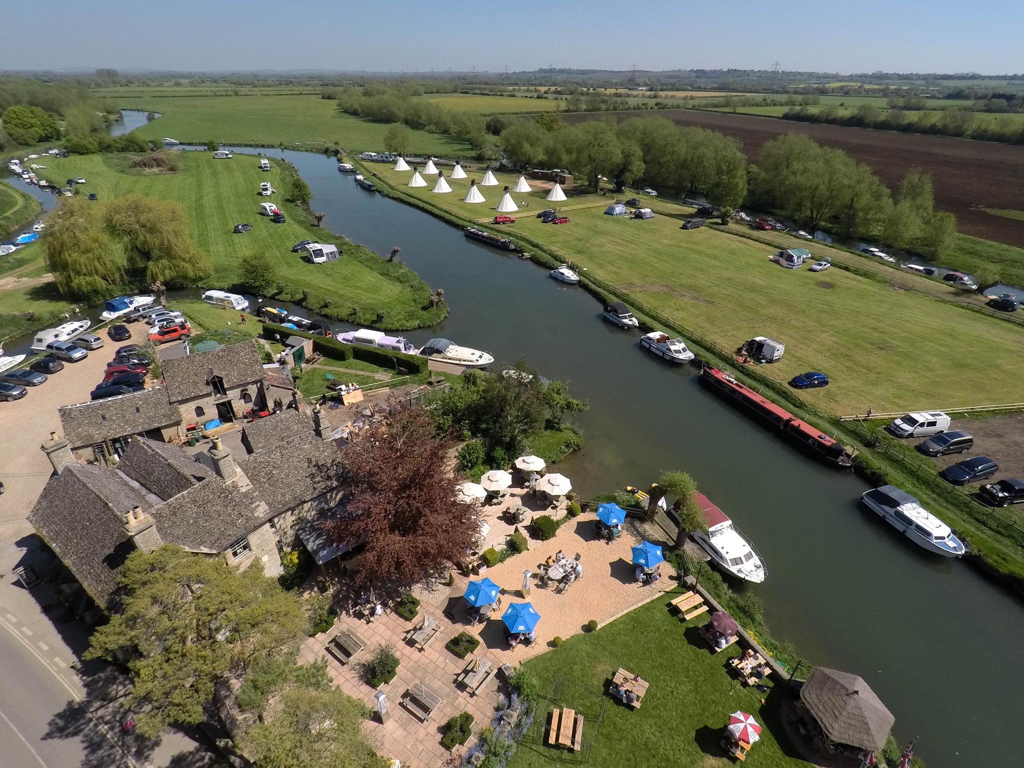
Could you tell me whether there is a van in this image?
Yes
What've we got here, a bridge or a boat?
boat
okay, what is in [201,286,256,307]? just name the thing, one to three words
boat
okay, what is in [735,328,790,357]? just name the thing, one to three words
van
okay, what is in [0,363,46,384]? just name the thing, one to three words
car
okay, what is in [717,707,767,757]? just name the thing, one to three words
umbrella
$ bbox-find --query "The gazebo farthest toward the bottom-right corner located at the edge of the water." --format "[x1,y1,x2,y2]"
[791,666,893,768]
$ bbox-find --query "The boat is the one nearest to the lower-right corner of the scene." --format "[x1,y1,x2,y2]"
[855,483,976,559]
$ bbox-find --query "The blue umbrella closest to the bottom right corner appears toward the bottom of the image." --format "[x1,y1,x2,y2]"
[629,543,664,571]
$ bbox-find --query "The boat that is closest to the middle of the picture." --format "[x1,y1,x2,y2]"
[501,367,535,380]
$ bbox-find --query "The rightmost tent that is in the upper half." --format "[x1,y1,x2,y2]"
[774,247,814,267]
